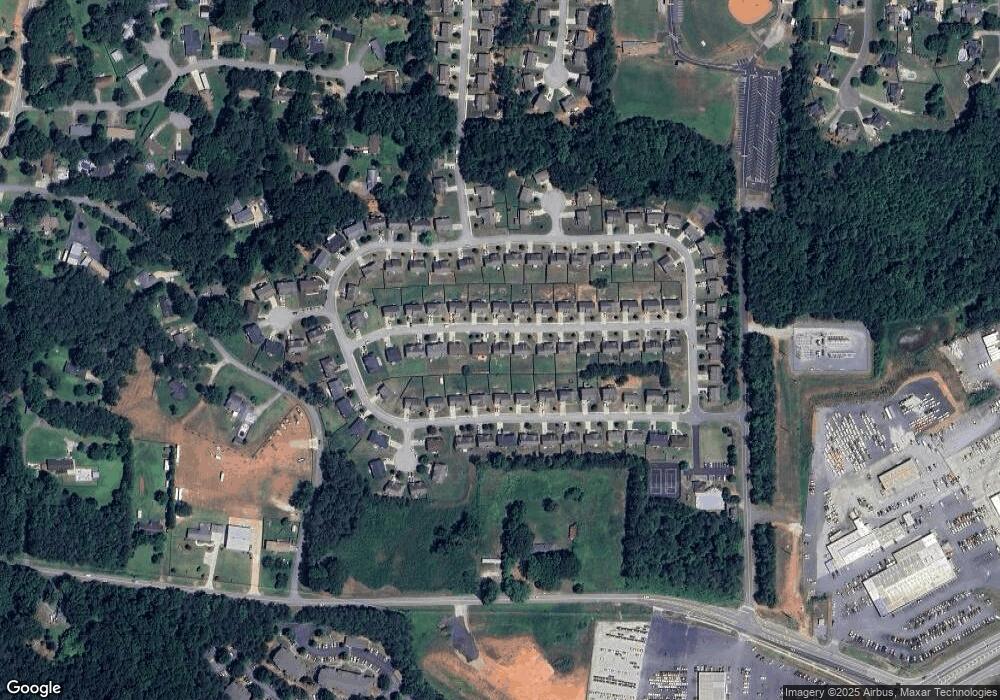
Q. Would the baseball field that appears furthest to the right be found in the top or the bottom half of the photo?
top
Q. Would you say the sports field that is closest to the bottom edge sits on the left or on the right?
right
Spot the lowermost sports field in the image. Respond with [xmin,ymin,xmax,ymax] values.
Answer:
[617,61,734,144]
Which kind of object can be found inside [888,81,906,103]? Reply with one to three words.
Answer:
house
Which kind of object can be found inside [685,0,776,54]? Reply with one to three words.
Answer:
baseball field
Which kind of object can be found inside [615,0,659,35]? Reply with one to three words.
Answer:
sports field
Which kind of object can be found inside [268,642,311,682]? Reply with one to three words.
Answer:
building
